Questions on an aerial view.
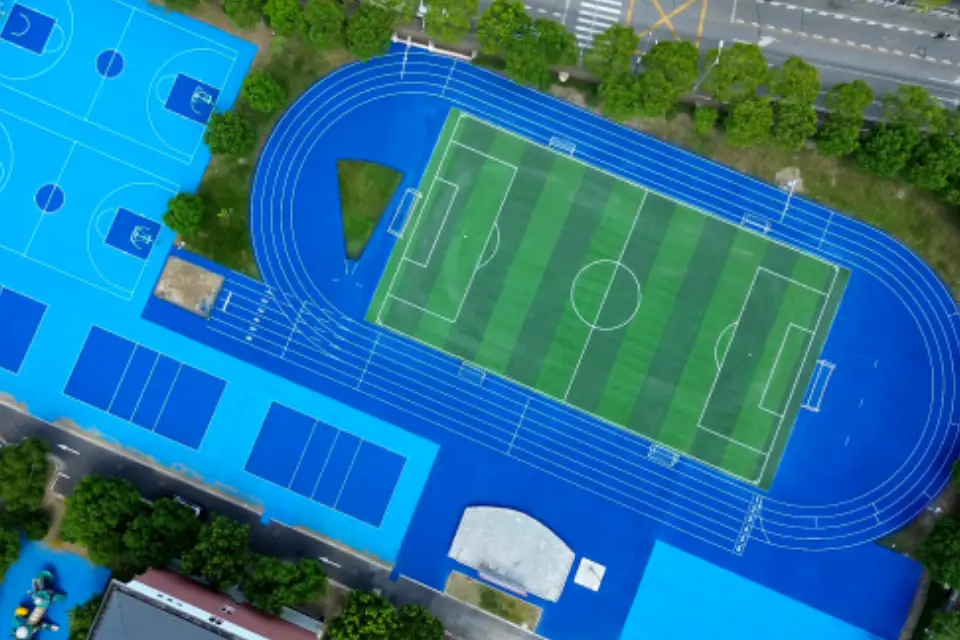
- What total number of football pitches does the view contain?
1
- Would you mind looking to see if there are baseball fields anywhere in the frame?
No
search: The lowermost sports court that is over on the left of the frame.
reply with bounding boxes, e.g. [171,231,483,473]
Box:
[244,401,408,528]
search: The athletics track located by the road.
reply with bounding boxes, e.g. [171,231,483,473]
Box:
[188,43,960,554]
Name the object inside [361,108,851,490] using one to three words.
soccer field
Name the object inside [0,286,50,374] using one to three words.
sports court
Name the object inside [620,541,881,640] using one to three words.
sports court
